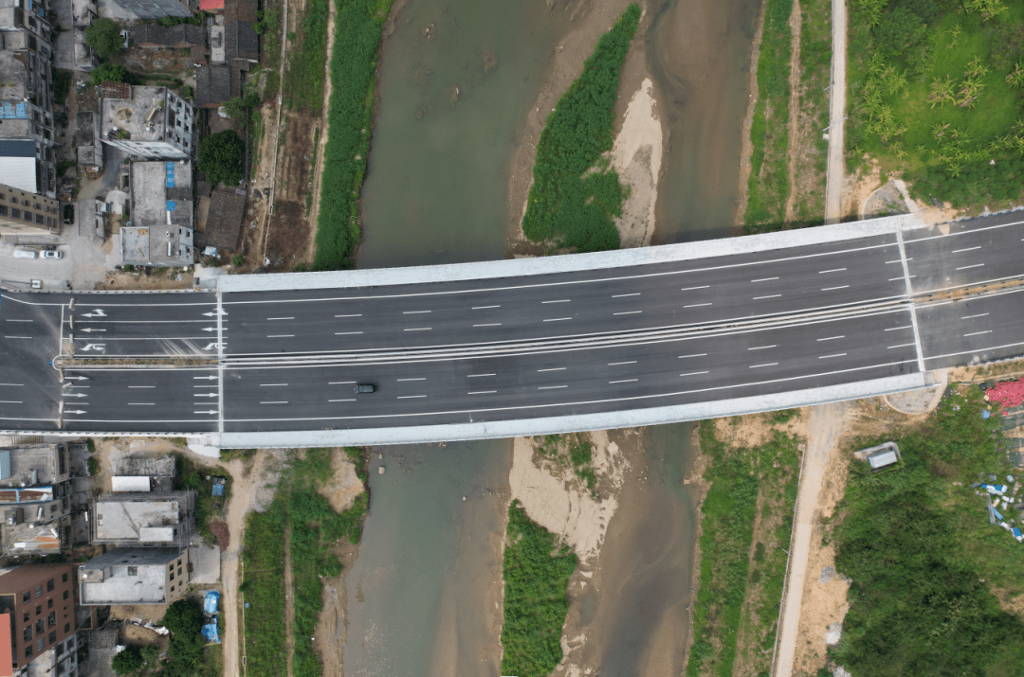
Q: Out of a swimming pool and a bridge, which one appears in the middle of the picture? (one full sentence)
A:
There is a bridge in the middle of the picture.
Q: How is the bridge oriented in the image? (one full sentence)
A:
The bridge runs from side to side in the image.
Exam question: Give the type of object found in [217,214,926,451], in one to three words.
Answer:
bridge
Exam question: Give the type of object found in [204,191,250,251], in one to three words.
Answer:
house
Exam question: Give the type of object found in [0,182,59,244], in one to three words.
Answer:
building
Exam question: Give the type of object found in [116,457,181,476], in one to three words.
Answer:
shed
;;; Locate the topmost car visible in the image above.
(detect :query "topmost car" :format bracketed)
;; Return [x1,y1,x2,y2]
[60,203,73,225]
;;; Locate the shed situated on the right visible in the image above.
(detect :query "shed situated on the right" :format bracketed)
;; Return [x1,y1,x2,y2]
[861,448,898,470]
